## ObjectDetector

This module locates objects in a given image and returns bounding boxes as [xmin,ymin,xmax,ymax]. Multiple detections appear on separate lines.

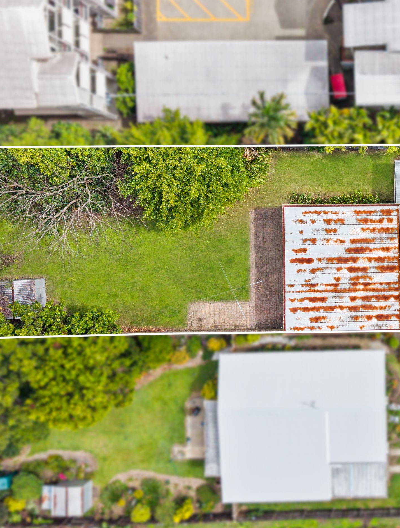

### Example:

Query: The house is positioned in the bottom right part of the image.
[205,349,388,503]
